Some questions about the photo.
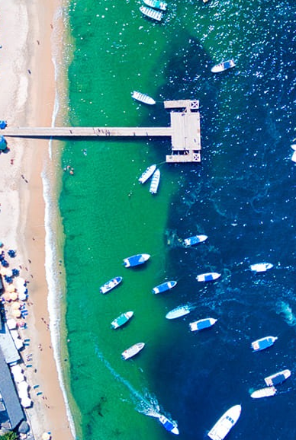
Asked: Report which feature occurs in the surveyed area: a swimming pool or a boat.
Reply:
boat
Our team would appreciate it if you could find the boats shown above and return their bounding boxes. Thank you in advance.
[195,272,221,283]
[157,414,179,434]
[249,262,273,271]
[211,59,237,71]
[265,371,292,386]
[137,165,156,185]
[122,255,151,269]
[152,281,178,296]
[165,305,192,318]
[183,236,208,247]
[250,338,277,353]
[140,8,163,21]
[144,0,169,10]
[109,312,134,331]
[99,278,122,293]
[131,90,155,104]
[208,404,240,440]
[150,169,160,195]
[250,386,278,398]
[189,318,217,333]
[121,343,144,361]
